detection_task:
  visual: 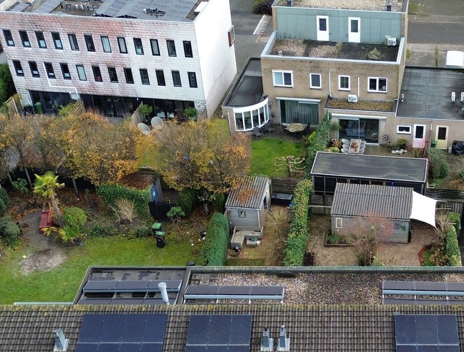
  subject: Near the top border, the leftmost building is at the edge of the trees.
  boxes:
[0,0,236,120]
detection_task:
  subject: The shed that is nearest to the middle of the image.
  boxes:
[222,175,269,232]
